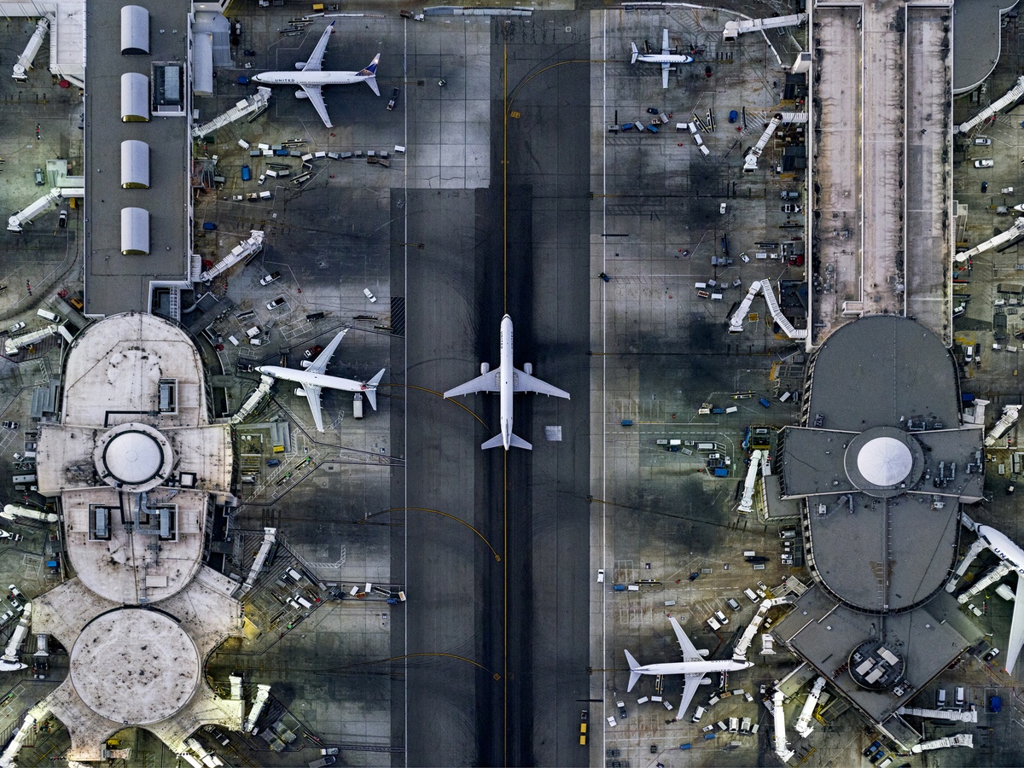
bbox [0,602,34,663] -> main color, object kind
white jet bridge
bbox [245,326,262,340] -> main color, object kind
white vehicle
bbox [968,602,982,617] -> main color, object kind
white car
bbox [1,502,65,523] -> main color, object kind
white jet bridge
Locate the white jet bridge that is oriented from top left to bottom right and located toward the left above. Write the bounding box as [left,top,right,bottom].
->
[185,735,233,768]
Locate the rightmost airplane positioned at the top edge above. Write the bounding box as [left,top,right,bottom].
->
[633,29,693,88]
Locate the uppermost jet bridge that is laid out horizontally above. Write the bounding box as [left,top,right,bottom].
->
[721,14,805,46]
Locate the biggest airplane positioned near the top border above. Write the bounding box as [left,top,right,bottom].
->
[252,21,380,128]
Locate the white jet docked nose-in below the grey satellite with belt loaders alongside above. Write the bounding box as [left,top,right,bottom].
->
[623,614,754,722]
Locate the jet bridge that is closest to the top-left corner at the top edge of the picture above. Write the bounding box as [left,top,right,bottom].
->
[5,13,56,82]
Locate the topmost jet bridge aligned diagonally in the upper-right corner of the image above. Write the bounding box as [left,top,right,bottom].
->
[954,77,1024,139]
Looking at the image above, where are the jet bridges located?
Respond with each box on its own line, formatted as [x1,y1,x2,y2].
[0,322,75,358]
[908,731,977,756]
[721,14,805,46]
[741,112,805,172]
[954,210,1024,267]
[955,559,1017,604]
[191,227,266,286]
[727,278,805,341]
[725,594,787,663]
[794,674,828,744]
[954,77,1024,139]
[940,536,990,593]
[735,447,763,516]
[190,81,270,143]
[185,735,233,768]
[768,690,800,767]
[2,188,84,230]
[229,369,280,426]
[243,679,276,733]
[984,399,1021,450]
[5,13,56,82]
[0,602,34,663]
[66,758,100,768]
[1,502,65,523]
[0,708,37,768]
[895,705,982,725]
[238,523,281,594]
